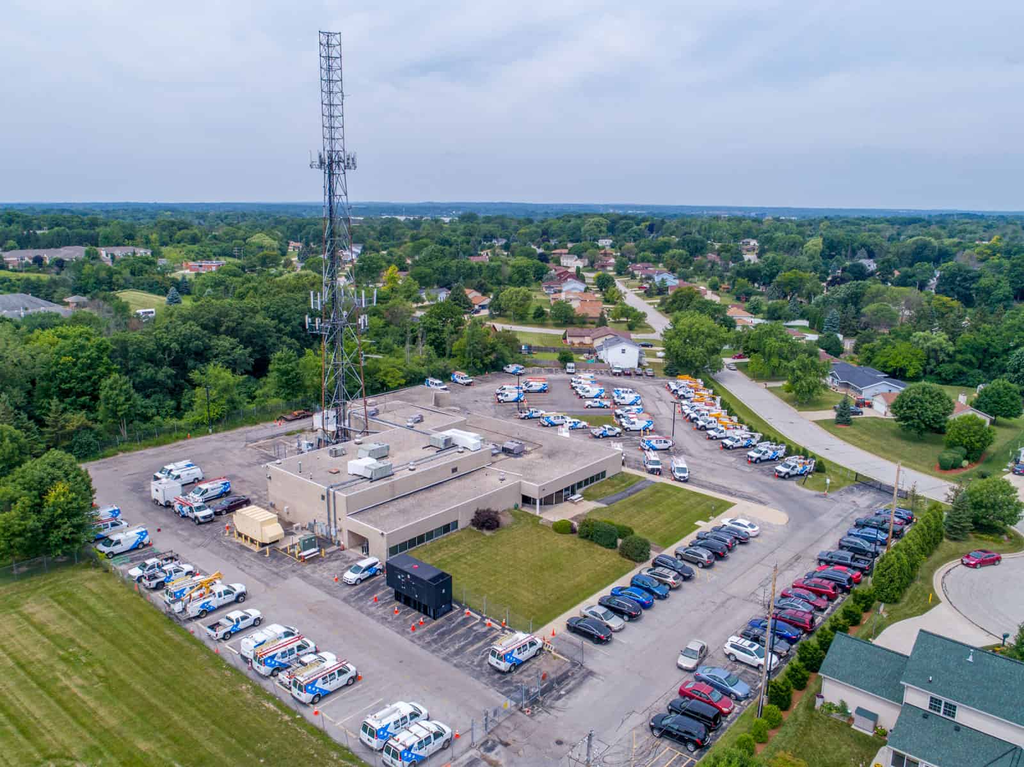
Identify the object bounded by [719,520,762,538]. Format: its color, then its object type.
white car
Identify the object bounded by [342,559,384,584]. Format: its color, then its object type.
white car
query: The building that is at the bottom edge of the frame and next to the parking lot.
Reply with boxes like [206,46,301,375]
[818,631,1024,767]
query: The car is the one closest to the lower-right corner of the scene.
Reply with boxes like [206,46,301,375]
[959,551,1003,570]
